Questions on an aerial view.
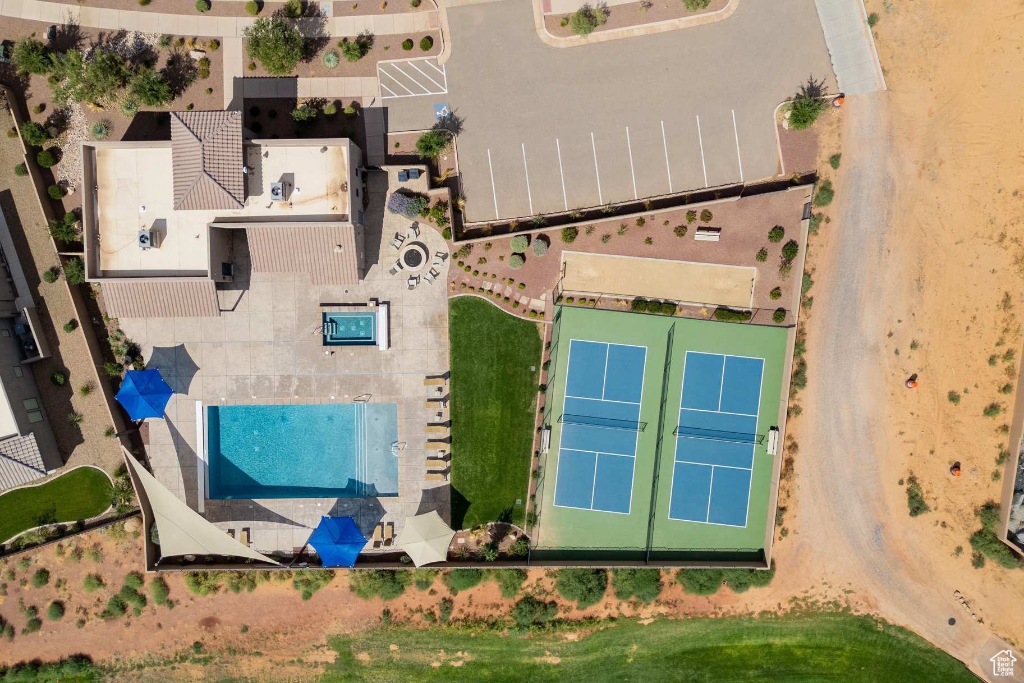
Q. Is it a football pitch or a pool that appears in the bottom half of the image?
pool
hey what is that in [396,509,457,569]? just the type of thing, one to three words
umbrella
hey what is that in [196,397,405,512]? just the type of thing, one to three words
swimming pool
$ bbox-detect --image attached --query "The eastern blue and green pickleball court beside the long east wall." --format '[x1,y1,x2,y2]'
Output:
[649,317,787,562]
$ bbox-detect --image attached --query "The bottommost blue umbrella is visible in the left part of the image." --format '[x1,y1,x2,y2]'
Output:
[308,515,369,568]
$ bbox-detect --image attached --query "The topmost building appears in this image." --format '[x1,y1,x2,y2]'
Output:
[81,109,367,318]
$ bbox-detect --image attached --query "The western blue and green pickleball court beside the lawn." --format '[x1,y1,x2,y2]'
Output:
[529,305,675,562]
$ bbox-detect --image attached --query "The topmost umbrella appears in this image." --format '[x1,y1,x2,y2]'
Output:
[115,367,174,422]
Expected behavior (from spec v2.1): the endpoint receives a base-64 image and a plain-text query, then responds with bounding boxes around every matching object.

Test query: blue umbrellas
[115,367,174,422]
[308,515,369,568]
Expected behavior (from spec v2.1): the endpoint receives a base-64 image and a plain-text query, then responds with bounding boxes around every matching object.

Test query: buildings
[0,244,63,490]
[81,109,367,318]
